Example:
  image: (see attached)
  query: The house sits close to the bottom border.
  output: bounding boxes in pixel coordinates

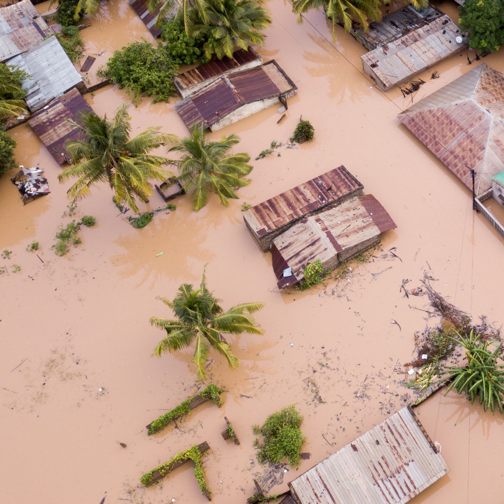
[288,404,451,504]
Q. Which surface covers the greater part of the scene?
water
